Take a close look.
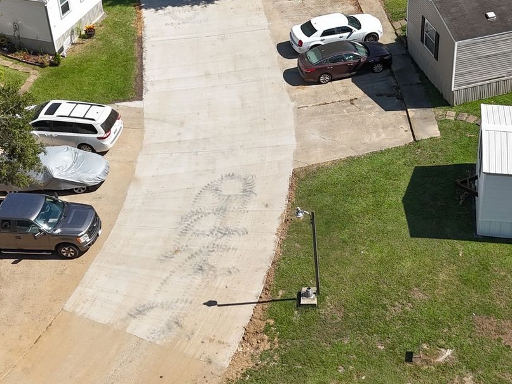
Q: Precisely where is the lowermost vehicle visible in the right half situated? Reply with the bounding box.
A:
[295,37,395,82]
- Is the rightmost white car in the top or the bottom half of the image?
top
